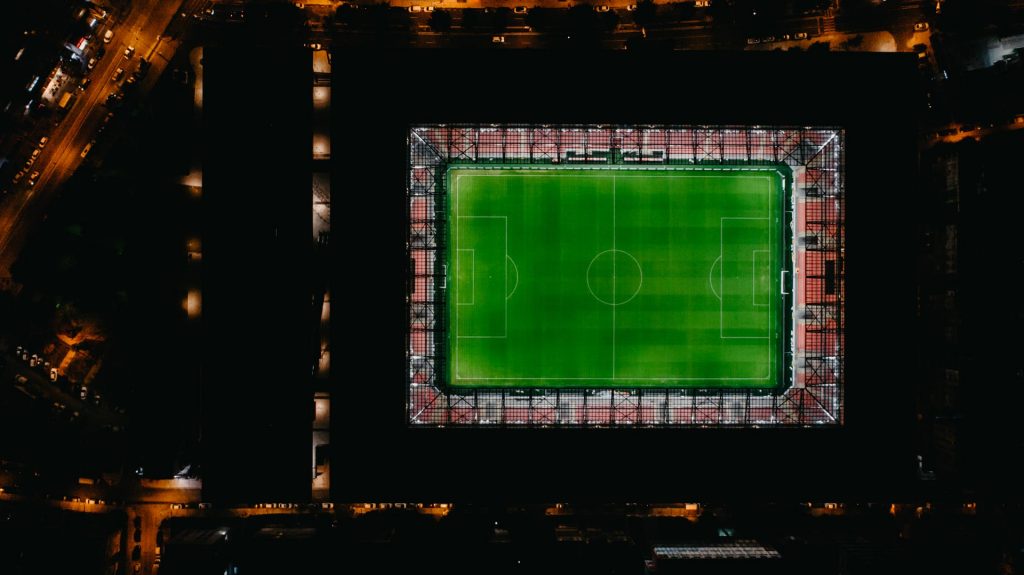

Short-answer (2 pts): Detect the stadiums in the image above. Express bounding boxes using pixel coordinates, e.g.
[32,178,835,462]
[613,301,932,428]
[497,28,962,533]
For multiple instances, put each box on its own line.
[329,50,918,503]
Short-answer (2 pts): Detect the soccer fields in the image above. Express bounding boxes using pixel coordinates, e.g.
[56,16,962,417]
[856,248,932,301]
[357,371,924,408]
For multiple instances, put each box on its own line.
[435,158,791,395]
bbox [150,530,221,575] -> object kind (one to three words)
shed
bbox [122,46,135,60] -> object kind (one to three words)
vehicle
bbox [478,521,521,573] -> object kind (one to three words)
building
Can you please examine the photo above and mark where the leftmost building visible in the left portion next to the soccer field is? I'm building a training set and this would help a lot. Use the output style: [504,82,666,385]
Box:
[203,50,313,502]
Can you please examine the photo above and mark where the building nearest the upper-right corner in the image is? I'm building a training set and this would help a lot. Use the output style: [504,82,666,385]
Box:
[938,153,1020,212]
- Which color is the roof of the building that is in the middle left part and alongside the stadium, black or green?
black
